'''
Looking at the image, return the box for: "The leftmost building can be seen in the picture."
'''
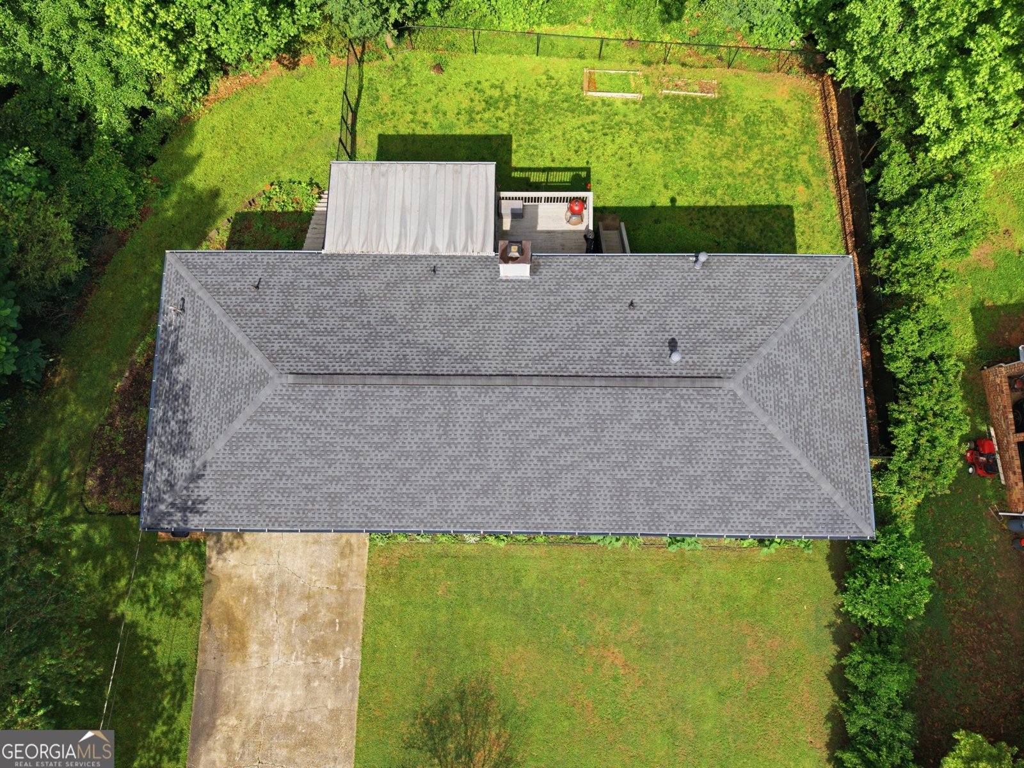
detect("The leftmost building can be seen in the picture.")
[136,160,878,542]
